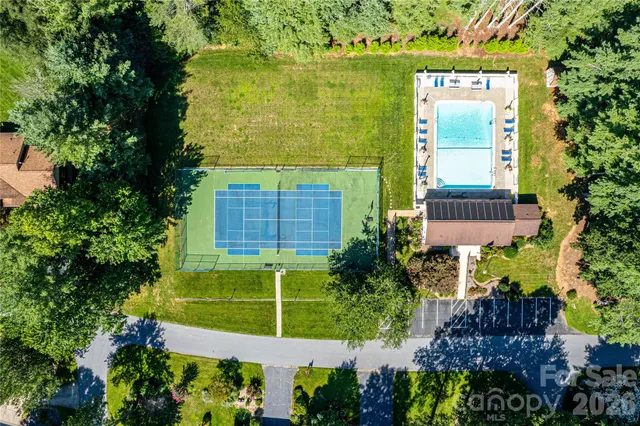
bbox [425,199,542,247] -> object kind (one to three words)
building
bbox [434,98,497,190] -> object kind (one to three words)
swimming pool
